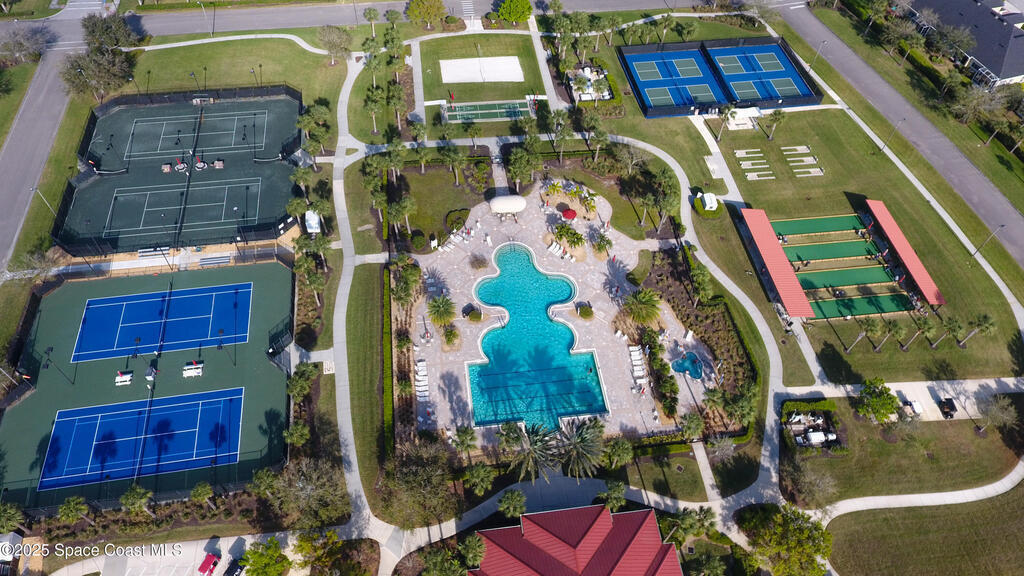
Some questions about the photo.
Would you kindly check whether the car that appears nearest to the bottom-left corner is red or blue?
red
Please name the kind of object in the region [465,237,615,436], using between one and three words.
swimming pool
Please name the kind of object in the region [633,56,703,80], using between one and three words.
sports court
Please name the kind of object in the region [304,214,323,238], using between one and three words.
shed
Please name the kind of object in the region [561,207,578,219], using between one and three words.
umbrella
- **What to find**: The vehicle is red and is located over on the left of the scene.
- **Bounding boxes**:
[191,552,224,576]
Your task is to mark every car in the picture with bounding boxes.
[218,551,251,576]
[191,552,224,576]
